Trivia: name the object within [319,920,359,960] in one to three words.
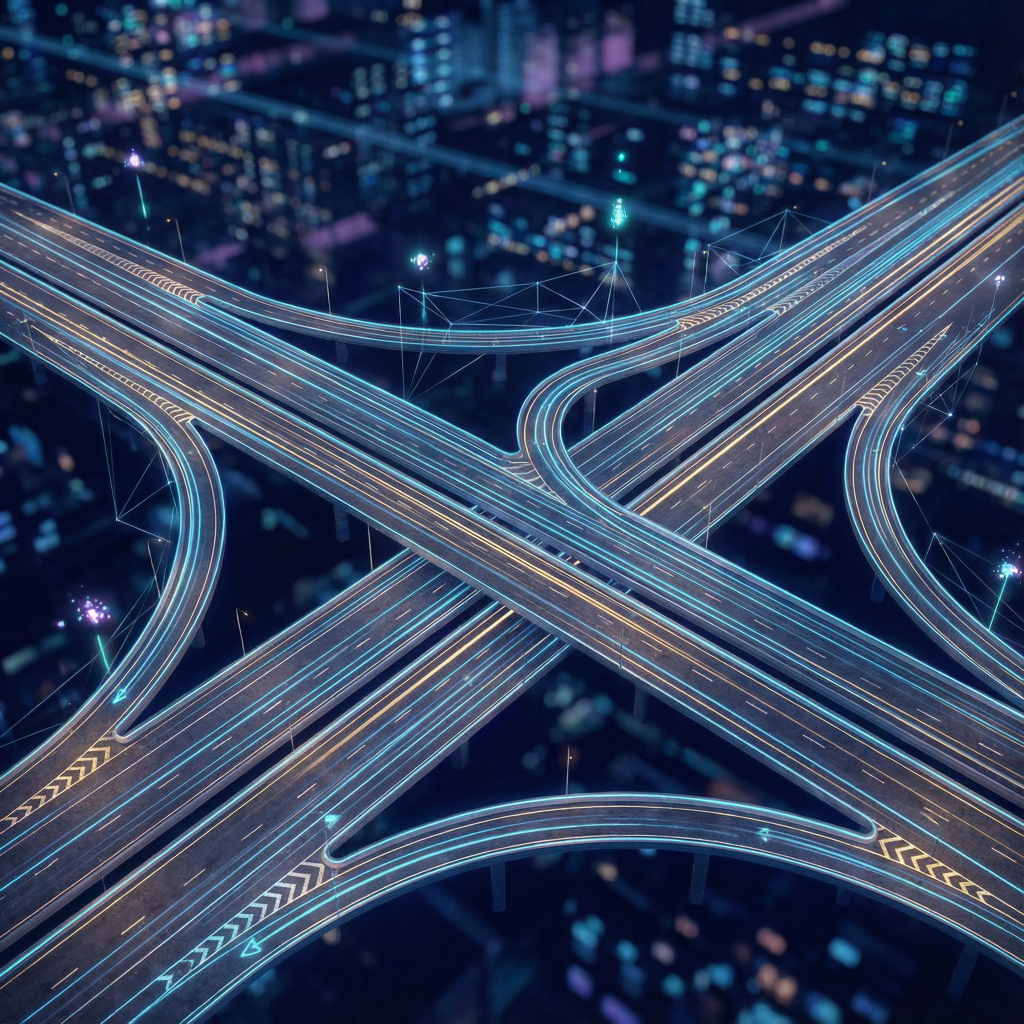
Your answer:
building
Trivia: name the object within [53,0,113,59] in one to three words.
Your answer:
building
